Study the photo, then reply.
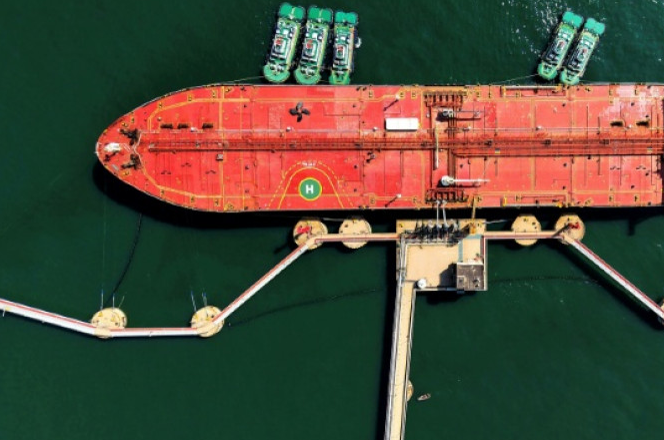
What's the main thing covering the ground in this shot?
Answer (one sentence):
What you mostly see from above here is water.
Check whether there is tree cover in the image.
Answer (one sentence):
No, the picture contains no tree cover.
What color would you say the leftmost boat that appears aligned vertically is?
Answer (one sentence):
From above, the leftmost boat that appears aligned vertically appears green.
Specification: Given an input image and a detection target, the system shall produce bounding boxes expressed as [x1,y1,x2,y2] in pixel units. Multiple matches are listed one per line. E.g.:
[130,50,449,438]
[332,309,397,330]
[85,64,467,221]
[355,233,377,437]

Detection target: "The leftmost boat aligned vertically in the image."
[266,1,307,84]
